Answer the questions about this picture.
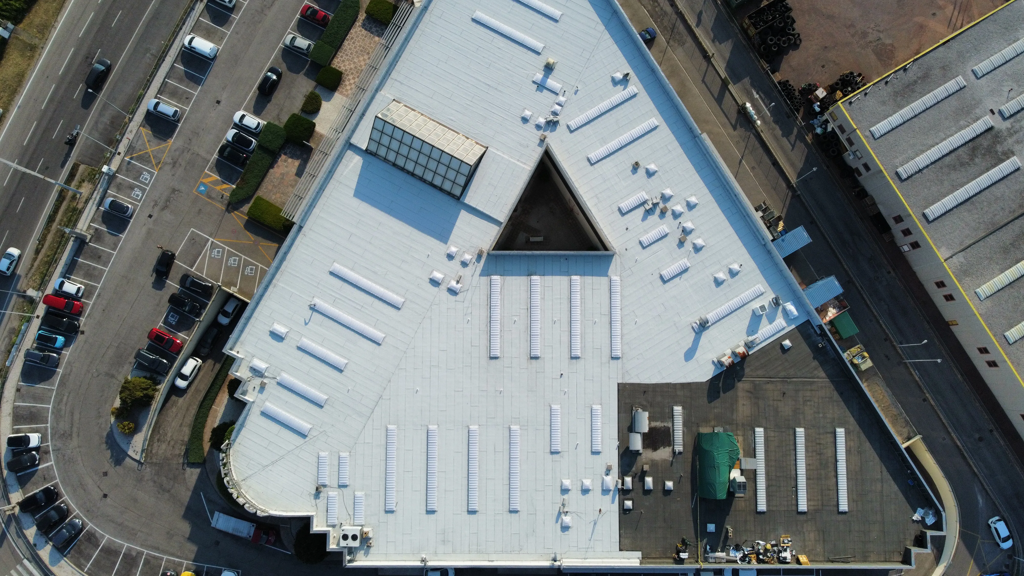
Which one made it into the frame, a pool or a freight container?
freight container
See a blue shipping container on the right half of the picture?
Yes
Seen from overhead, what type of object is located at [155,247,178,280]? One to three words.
car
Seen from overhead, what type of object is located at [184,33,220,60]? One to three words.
vehicle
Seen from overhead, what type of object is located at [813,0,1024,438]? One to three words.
warehouse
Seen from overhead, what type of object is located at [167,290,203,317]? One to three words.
car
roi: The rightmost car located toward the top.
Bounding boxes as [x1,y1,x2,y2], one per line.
[637,23,661,45]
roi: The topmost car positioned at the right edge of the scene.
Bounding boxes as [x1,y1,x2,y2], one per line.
[986,515,1014,549]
